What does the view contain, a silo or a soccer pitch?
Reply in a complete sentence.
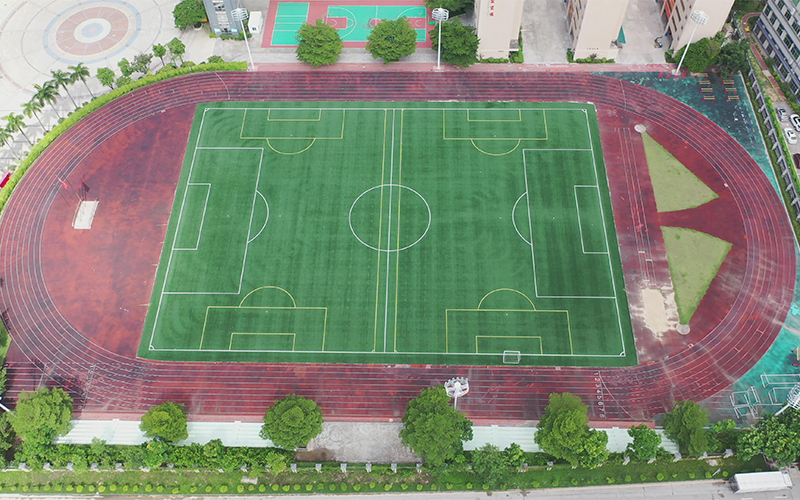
Looking from above, you can make out a soccer pitch.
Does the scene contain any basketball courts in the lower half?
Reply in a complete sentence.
No, no basketball court is visible in the lower half.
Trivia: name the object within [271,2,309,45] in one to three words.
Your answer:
sports court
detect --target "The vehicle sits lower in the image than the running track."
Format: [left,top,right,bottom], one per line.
[727,473,793,495]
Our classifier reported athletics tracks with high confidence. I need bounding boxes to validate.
[0,73,796,421]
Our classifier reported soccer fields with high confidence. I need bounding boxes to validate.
[138,102,638,367]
